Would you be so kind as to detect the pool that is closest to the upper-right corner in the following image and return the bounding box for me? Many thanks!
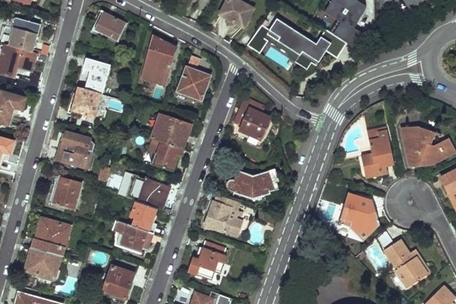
[346,124,362,152]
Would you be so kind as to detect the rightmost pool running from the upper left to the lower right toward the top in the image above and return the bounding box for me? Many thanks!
[264,45,290,68]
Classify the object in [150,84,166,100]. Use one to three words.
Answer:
swimming pool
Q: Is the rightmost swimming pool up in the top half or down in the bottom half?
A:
bottom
